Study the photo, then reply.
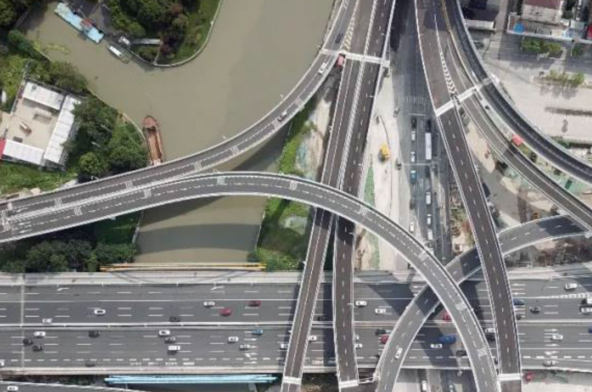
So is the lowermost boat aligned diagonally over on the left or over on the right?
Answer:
left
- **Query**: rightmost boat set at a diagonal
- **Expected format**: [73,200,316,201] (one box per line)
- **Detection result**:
[110,44,133,66]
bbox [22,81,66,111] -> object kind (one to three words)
shed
